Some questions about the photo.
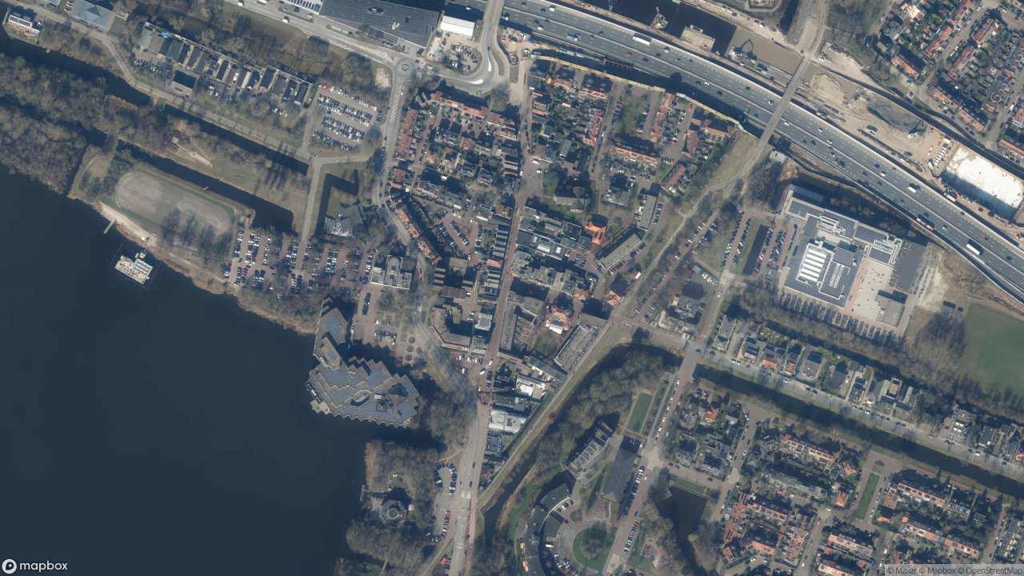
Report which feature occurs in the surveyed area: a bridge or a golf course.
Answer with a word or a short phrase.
bridge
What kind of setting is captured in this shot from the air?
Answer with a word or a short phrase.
residential area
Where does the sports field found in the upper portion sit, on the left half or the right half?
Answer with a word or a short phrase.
left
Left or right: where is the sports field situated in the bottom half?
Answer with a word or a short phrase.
right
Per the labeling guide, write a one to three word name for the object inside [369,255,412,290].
building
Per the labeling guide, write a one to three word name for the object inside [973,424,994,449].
house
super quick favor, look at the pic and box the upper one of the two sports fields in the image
[110,166,242,254]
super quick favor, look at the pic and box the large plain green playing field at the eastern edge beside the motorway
[957,301,1024,398]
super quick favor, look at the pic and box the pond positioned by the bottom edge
[657,485,708,576]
